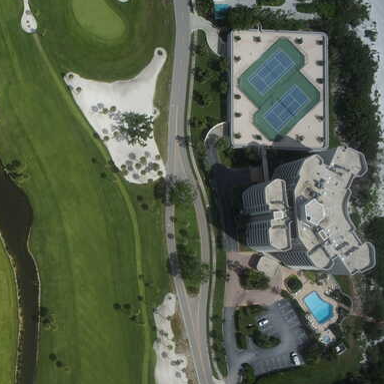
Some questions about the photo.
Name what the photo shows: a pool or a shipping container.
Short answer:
pool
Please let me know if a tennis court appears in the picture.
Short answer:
Yes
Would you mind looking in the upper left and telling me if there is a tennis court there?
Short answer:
No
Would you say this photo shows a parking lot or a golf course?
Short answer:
golf course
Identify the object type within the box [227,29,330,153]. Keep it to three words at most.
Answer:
building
